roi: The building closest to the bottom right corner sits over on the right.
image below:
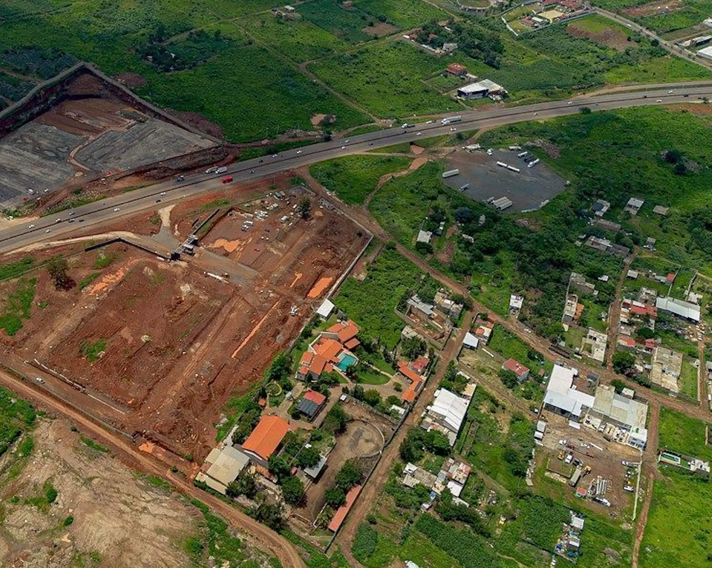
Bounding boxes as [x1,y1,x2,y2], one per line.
[690,459,710,483]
